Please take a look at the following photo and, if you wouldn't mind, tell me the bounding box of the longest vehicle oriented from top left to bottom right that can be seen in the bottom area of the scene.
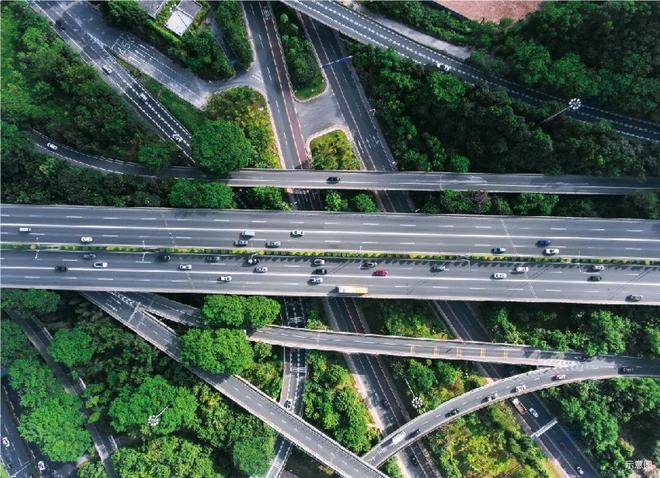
[511,396,528,416]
